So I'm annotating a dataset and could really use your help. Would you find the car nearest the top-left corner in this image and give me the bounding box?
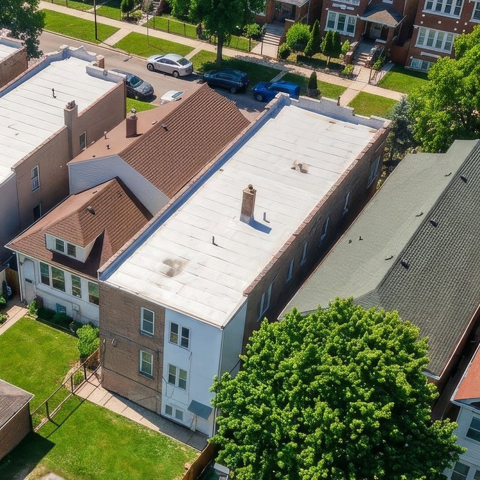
[105,73,156,99]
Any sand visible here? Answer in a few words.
No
